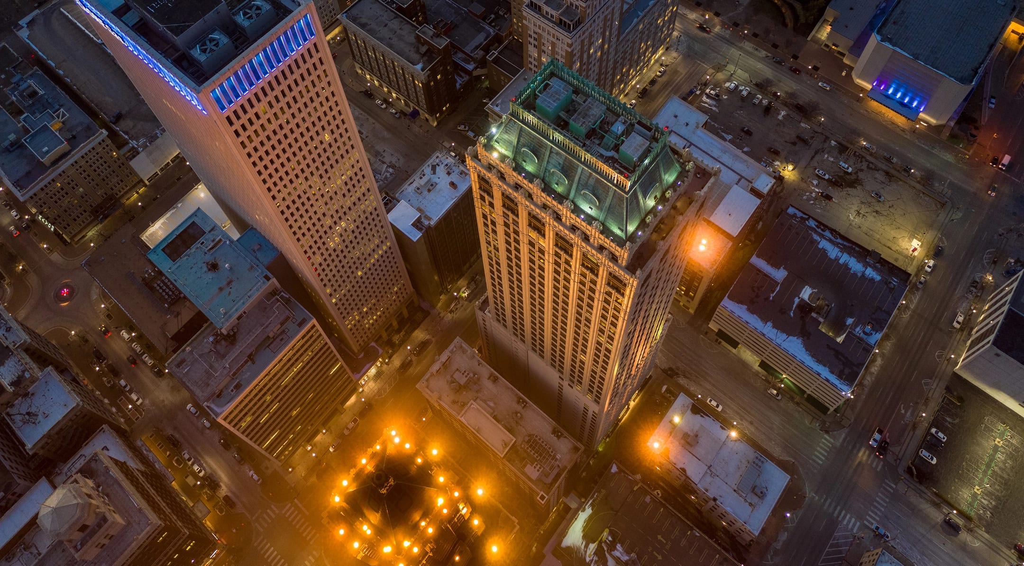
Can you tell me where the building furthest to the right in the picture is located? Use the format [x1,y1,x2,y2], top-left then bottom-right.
[953,283,1024,414]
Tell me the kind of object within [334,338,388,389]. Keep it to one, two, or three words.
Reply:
building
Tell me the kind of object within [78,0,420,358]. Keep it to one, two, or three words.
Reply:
building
